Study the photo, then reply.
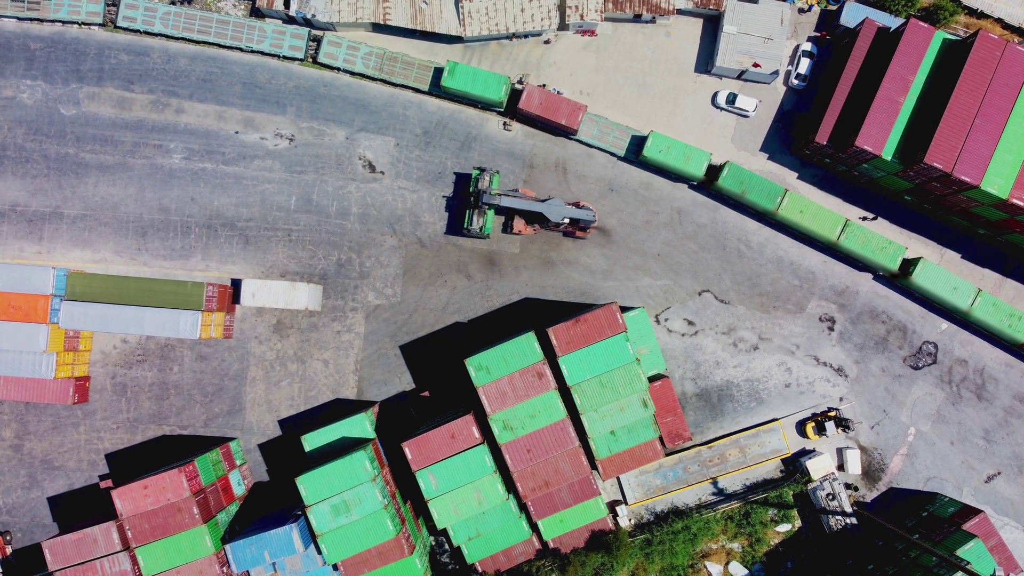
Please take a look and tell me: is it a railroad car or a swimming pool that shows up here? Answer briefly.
railroad car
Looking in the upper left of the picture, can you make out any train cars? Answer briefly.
Yes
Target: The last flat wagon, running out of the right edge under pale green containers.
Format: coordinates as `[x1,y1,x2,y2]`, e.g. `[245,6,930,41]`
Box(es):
[891,255,1024,352]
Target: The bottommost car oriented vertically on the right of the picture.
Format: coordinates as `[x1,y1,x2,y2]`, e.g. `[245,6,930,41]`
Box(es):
[791,41,820,91]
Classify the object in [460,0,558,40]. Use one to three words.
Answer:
shed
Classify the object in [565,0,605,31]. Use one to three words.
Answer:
shed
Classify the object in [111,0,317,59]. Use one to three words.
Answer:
rail car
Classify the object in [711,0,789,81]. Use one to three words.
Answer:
house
